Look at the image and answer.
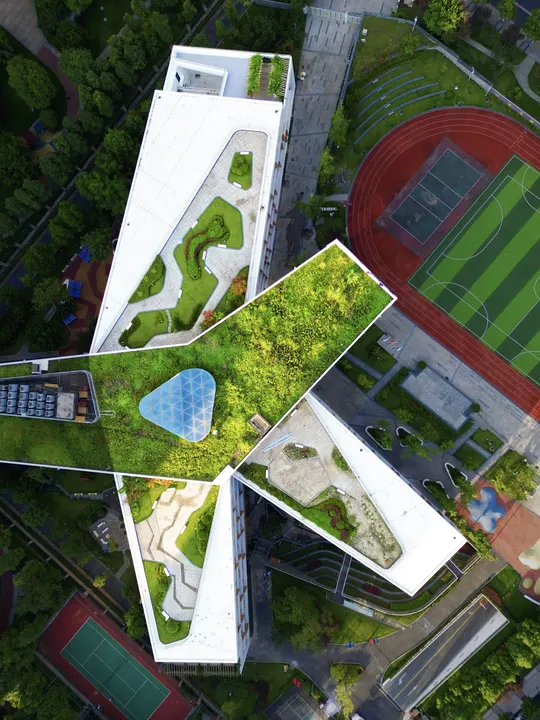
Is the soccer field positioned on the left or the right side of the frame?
right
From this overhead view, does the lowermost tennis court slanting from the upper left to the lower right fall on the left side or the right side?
left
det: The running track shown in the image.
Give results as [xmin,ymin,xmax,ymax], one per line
[347,105,540,427]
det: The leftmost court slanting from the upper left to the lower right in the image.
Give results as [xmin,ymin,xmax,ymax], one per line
[39,593,206,720]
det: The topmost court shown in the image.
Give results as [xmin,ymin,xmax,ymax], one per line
[378,136,494,258]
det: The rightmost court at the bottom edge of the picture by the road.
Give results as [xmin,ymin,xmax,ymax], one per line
[262,682,336,720]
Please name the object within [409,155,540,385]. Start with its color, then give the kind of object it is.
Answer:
green soccer field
